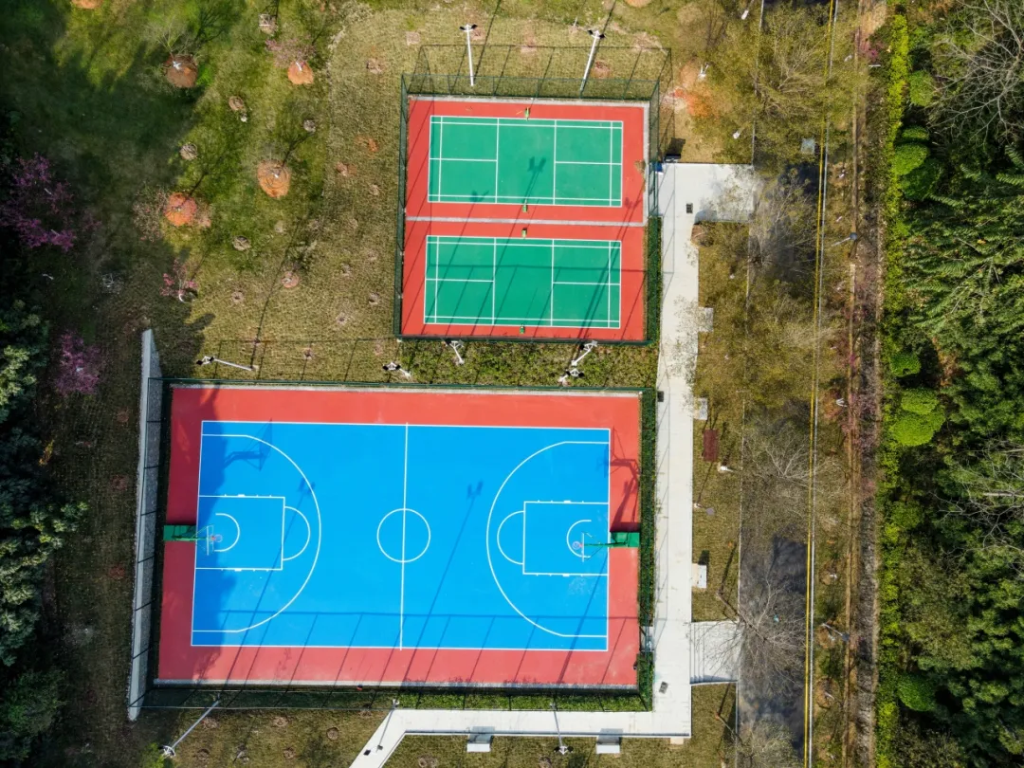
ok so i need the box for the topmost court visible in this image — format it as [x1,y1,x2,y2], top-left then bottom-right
[403,93,652,230]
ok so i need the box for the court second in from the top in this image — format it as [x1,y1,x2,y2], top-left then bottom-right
[402,224,649,346]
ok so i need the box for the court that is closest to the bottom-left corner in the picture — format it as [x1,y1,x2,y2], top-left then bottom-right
[155,383,641,692]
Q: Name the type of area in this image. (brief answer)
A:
sports ground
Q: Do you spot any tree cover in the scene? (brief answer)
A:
Yes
